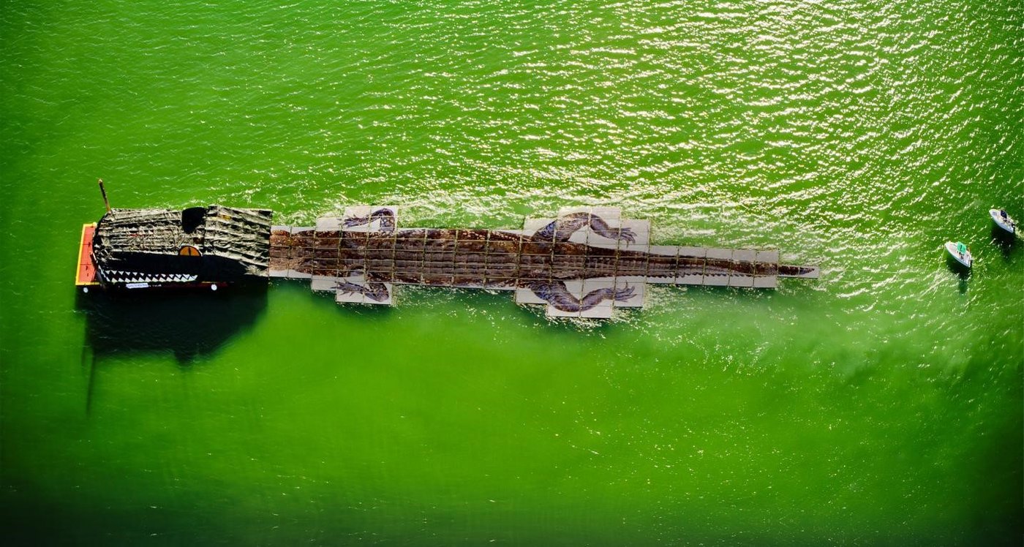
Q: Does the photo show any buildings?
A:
No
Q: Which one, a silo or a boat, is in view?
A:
boat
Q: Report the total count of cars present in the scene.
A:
0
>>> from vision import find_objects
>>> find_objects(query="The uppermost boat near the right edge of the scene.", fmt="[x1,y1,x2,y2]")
[990,209,1018,236]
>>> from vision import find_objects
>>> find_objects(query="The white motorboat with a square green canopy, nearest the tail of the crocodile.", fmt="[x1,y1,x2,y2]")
[946,242,976,271]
